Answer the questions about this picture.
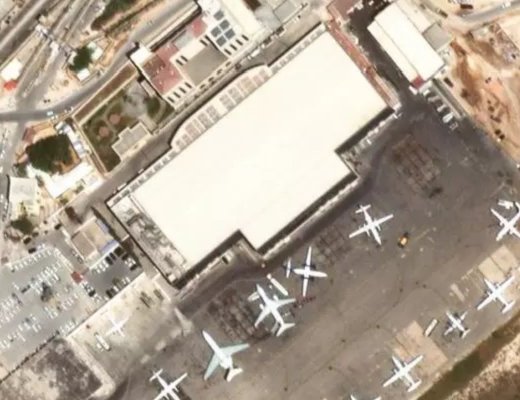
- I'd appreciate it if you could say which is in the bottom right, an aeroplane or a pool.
aeroplane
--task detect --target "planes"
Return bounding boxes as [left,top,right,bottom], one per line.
[149,369,187,400]
[493,201,520,240]
[285,248,328,297]
[104,316,130,341]
[349,204,393,245]
[382,355,424,392]
[257,284,296,335]
[477,276,515,313]
[202,330,248,383]
[443,312,470,338]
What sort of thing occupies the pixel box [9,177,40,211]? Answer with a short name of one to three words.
house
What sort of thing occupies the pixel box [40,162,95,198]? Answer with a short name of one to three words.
building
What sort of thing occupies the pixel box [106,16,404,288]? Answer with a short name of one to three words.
building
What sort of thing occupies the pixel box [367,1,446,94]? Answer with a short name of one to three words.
hangar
